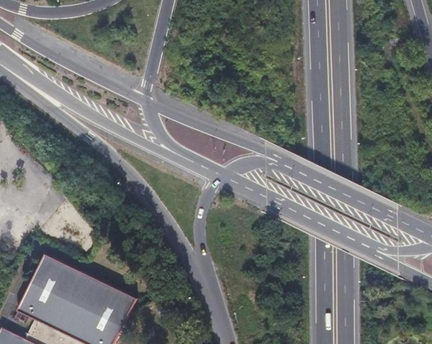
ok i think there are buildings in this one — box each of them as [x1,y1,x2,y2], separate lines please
[18,254,138,344]
[26,320,84,344]
[0,326,36,344]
